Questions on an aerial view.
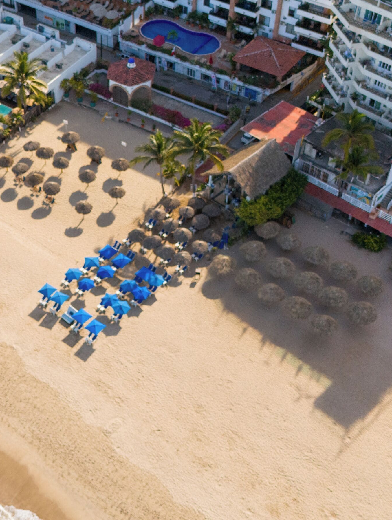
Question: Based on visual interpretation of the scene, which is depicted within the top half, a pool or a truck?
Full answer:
Looking within the top half, you will find a pool.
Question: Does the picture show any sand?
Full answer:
Yes, the picture does contain sand.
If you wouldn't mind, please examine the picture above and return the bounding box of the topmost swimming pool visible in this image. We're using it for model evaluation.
[142,22,218,55]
